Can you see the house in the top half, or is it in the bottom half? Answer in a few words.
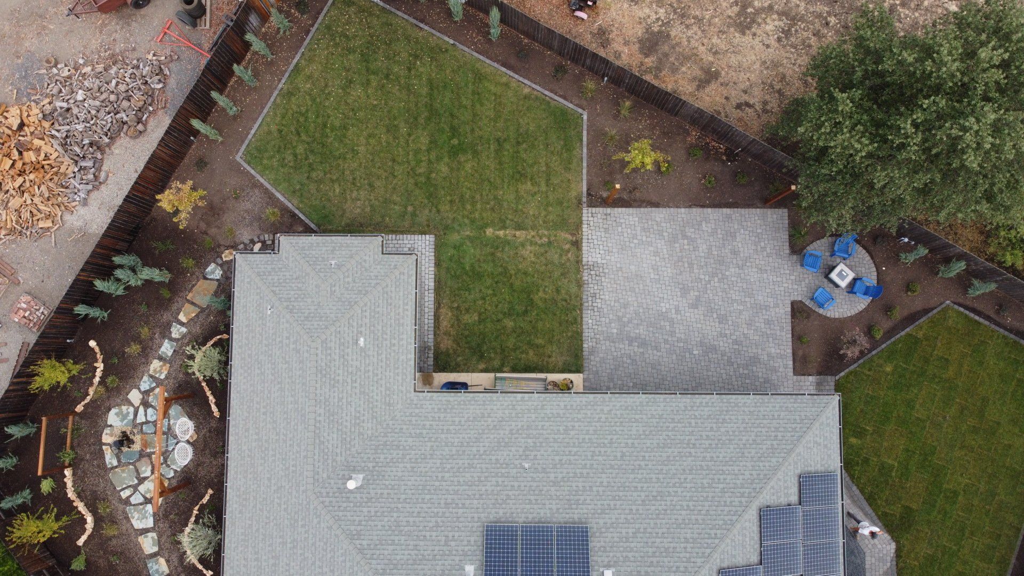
bottom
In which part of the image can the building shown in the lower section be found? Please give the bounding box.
[222,234,846,576]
